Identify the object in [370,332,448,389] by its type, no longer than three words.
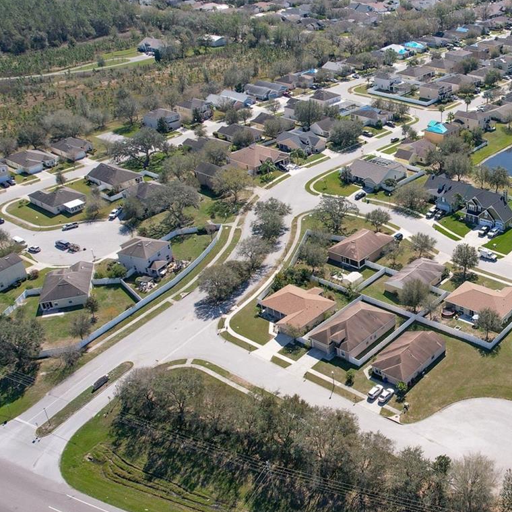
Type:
house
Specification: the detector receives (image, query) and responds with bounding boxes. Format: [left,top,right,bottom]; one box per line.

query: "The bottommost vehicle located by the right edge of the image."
[479,245,497,258]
